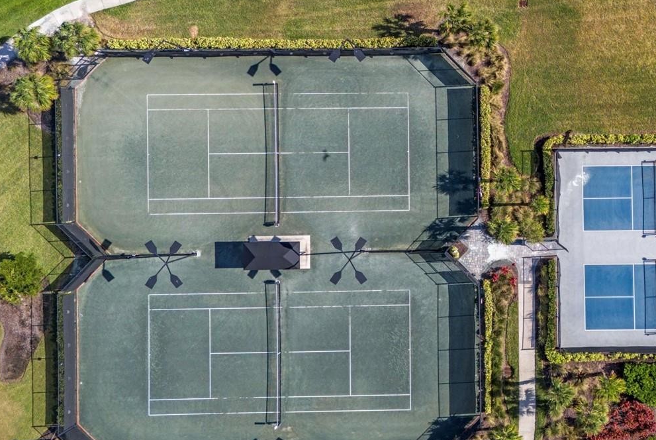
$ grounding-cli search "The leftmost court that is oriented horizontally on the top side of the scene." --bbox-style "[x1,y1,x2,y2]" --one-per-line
[77,52,481,256]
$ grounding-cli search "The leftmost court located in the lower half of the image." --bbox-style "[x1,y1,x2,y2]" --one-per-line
[79,253,482,440]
